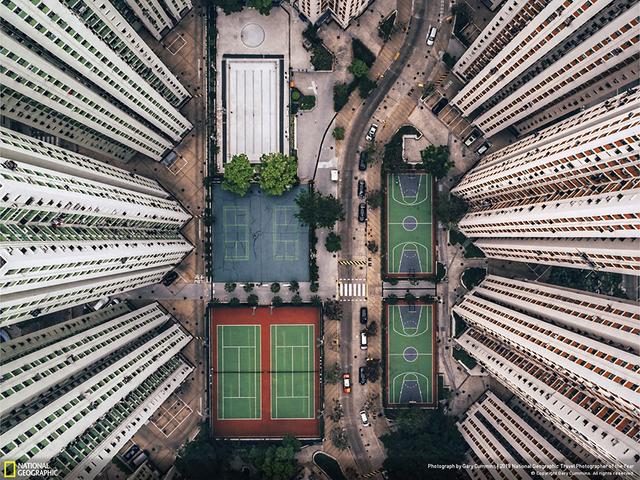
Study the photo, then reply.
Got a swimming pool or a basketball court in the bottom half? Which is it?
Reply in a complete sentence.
Looking in the bottom half, you will find a basketball court.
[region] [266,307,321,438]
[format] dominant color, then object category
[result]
green tennis court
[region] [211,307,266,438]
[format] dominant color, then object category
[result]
green tennis court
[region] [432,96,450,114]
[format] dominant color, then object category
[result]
black car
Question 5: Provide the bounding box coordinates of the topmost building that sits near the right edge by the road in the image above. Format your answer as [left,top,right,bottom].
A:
[449,0,640,141]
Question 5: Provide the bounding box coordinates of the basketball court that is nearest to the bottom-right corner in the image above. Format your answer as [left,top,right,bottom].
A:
[386,302,436,409]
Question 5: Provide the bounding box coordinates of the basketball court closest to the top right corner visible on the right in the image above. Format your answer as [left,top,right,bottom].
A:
[386,170,436,278]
